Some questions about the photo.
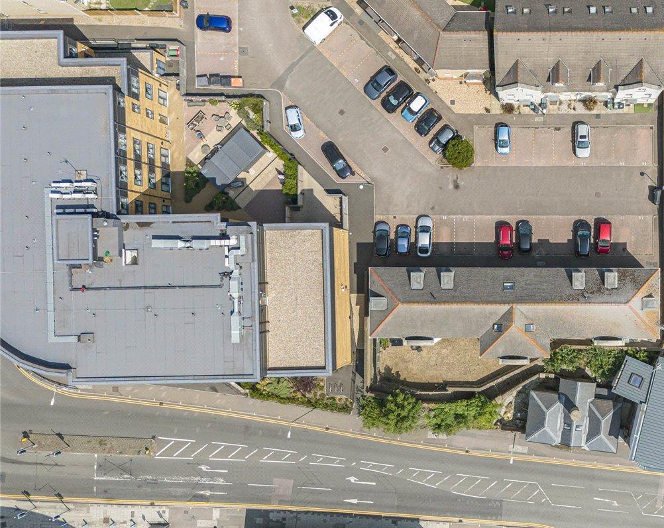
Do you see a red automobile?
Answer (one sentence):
Yes, a red automobile can be made out from above.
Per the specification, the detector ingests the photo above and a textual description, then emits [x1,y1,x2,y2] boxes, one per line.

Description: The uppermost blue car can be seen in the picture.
[199,13,232,32]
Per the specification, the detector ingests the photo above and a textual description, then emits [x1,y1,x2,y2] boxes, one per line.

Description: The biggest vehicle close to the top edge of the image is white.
[305,7,341,46]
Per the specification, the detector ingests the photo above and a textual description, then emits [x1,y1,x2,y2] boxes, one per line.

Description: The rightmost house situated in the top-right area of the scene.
[493,0,664,100]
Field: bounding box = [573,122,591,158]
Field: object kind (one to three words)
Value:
car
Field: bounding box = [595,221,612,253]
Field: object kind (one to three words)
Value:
car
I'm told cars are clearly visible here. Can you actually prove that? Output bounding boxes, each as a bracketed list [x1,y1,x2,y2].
[199,13,232,32]
[595,221,612,253]
[286,106,307,139]
[497,225,514,257]
[374,222,392,259]
[403,93,428,122]
[384,83,413,115]
[431,125,456,153]
[415,218,433,255]
[495,123,512,155]
[366,67,395,98]
[322,141,350,178]
[516,222,532,254]
[395,226,411,254]
[573,122,591,158]
[417,108,442,137]
[575,221,593,257]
